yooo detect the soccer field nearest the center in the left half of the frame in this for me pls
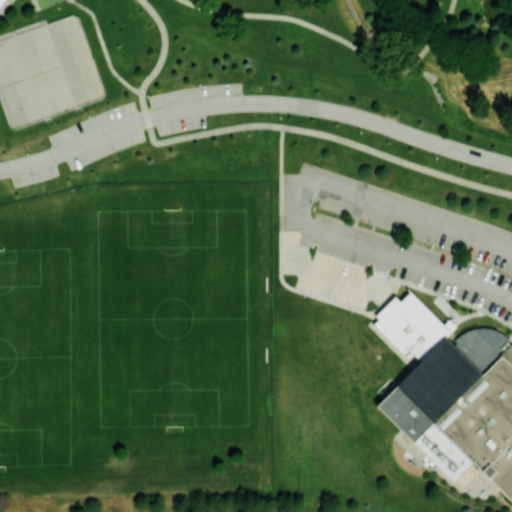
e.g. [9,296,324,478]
[95,207,253,432]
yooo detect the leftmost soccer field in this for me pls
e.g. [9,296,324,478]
[0,246,75,469]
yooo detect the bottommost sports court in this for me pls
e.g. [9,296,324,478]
[0,15,105,128]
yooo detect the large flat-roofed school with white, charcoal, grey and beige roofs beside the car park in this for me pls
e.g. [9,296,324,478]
[374,290,512,497]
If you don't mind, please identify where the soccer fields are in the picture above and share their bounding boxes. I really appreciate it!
[0,246,75,469]
[95,207,253,432]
